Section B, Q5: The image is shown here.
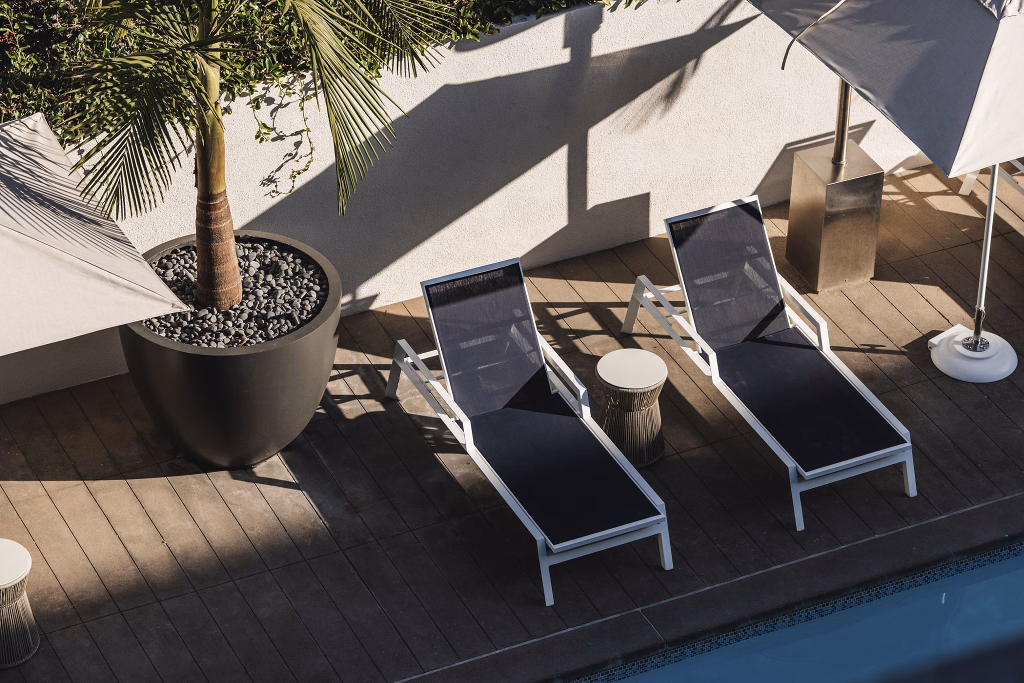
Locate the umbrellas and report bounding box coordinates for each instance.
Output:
[754,0,1024,321]
[0,107,192,352]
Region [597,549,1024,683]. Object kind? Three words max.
swimming pool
